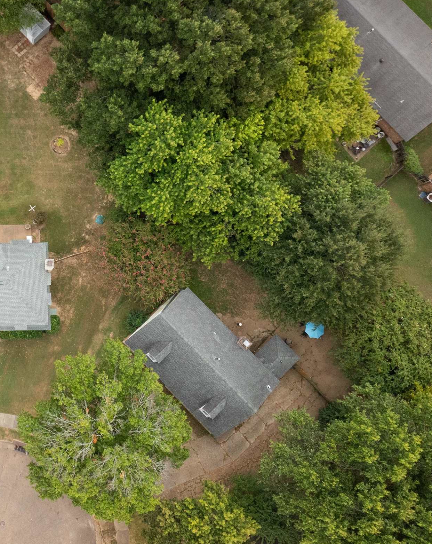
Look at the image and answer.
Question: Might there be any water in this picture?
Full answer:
No, there is no water in the image.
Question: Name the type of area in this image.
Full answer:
It's a residential area.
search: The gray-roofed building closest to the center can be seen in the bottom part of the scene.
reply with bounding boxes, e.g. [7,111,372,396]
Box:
[122,287,301,437]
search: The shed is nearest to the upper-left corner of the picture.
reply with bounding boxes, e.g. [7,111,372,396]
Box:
[20,10,50,49]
